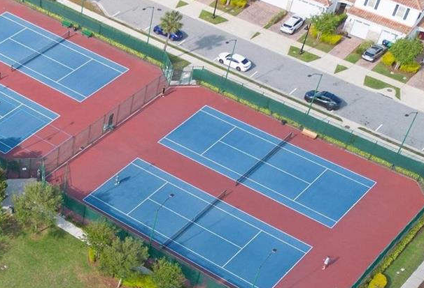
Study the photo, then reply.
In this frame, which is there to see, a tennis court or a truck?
tennis court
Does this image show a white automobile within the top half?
Yes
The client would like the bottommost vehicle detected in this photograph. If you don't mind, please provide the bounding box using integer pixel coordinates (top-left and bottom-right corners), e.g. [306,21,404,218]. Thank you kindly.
[306,86,344,107]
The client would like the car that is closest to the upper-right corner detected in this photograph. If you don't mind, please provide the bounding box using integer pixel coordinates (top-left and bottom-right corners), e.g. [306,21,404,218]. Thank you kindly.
[362,46,386,64]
